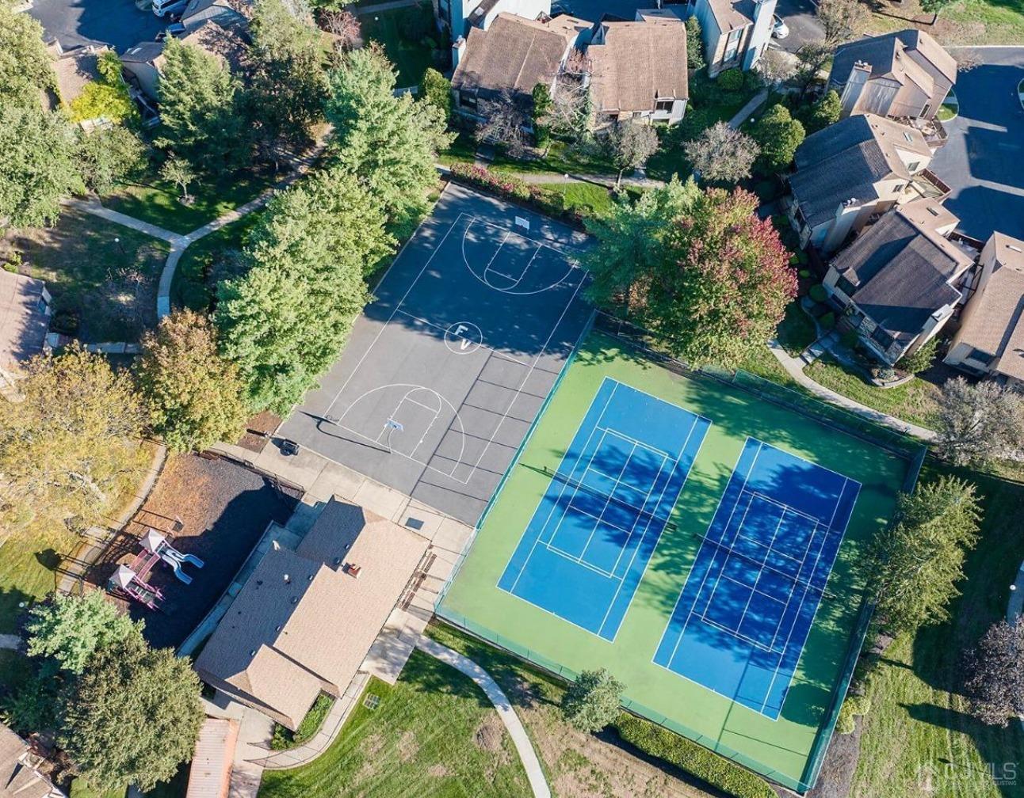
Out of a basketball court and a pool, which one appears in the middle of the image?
basketball court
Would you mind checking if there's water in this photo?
No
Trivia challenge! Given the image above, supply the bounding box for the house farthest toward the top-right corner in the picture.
[828,27,957,146]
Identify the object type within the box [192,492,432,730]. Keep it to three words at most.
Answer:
building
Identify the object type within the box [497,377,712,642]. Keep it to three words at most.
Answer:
tennis court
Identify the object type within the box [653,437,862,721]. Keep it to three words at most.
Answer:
tennis court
